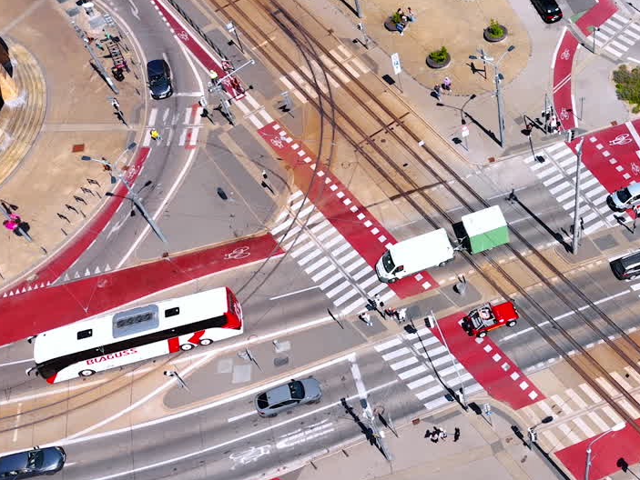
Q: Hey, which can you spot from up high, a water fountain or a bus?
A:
bus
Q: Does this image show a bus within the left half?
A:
Yes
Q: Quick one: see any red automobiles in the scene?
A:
Yes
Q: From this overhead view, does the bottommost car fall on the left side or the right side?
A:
left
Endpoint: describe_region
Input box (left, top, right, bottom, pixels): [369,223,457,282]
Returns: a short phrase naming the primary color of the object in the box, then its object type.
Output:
white van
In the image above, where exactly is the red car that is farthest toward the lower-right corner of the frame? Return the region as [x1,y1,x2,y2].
[466,299,522,337]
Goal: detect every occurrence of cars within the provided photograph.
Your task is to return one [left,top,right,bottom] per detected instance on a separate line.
[466,299,522,337]
[612,248,640,281]
[533,0,563,23]
[146,61,173,100]
[254,376,322,419]
[607,179,640,212]
[0,442,67,480]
